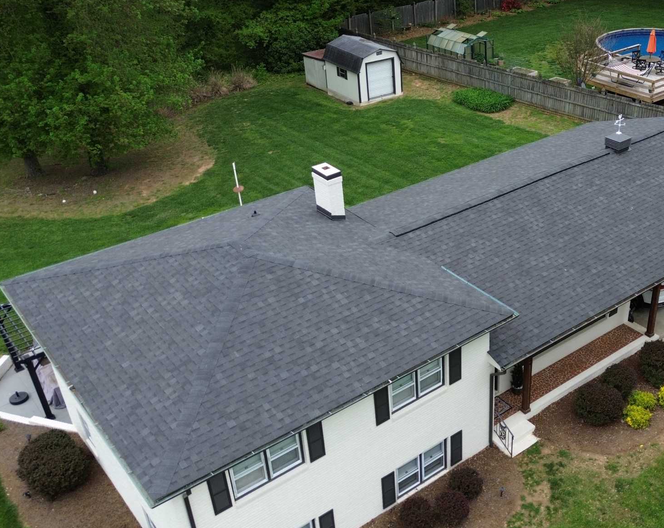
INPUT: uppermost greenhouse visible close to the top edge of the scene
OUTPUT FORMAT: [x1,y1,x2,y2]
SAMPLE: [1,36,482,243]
[431,15,495,62]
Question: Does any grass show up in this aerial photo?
Yes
